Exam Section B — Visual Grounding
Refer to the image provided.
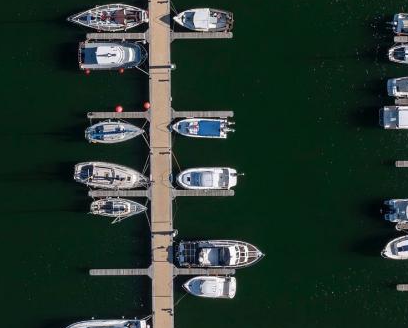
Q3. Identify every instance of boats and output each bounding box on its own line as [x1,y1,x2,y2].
[171,1,235,34]
[86,117,149,148]
[64,313,152,328]
[66,4,149,35]
[387,76,408,98]
[91,195,151,229]
[74,155,152,196]
[171,117,231,138]
[389,41,408,64]
[387,198,408,222]
[173,153,241,190]
[378,105,408,128]
[175,272,237,308]
[175,238,264,268]
[79,39,149,73]
[390,13,408,37]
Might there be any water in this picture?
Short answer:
Yes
